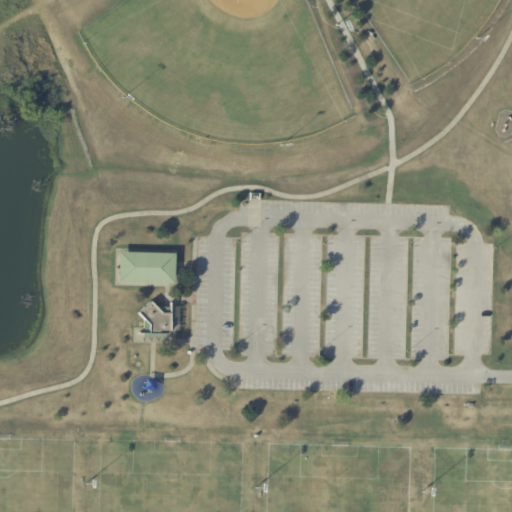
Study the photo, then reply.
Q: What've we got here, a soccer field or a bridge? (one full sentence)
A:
Visible in the photo is a soccer field.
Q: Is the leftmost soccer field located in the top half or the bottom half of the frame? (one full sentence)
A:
The bottom half of the photo is where the leftmost soccer field is.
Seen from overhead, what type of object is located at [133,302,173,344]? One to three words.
building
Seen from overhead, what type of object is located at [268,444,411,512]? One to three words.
soccer field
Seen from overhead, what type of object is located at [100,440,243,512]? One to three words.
soccer field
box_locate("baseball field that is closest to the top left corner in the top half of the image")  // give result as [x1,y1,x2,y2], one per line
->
[84,0,346,144]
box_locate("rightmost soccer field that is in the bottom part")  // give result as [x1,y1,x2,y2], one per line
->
[433,448,512,512]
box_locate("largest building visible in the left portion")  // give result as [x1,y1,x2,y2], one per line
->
[116,249,178,286]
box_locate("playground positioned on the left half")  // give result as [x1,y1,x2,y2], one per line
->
[132,374,164,402]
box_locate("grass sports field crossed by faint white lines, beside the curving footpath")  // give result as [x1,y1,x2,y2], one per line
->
[370,0,502,84]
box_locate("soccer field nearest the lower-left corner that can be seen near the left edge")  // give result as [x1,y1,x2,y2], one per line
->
[0,438,75,512]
